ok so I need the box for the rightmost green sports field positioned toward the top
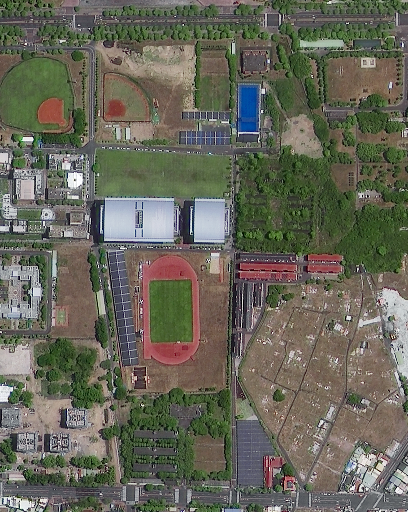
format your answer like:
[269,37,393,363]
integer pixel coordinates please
[96,150,231,198]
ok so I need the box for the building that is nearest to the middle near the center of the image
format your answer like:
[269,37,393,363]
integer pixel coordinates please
[190,199,230,243]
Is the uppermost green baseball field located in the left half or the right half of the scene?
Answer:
left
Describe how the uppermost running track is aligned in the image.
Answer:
from top to bottom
